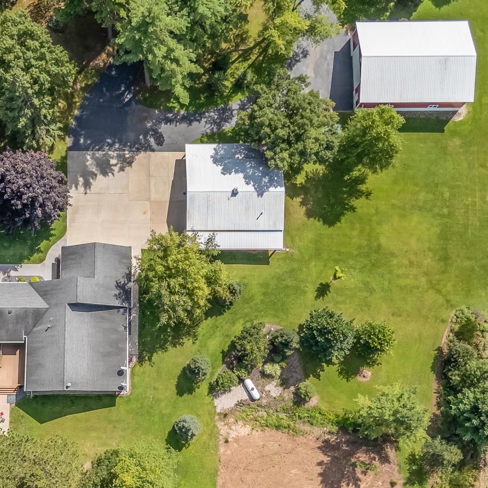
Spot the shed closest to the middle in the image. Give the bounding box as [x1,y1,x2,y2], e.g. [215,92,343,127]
[184,145,284,253]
